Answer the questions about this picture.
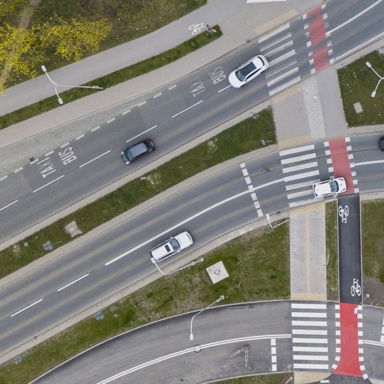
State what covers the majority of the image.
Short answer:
paved ground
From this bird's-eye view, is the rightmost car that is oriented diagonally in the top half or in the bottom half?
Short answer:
top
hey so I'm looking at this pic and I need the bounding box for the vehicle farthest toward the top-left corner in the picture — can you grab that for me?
[120,138,158,164]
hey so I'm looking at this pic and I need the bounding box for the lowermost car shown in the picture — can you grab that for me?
[150,230,195,263]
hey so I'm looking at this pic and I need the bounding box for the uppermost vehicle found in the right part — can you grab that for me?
[229,56,269,88]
